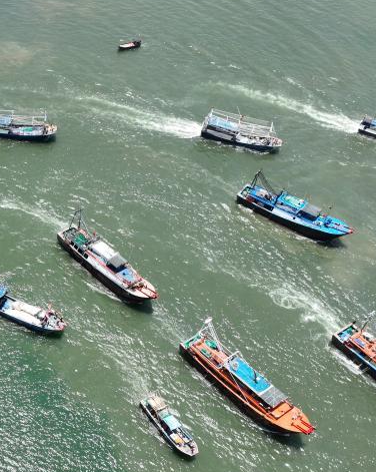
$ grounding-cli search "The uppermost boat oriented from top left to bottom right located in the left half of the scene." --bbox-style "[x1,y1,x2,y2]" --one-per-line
[58,216,163,303]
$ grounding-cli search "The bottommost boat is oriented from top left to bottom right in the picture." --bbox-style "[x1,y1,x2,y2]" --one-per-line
[141,395,200,453]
